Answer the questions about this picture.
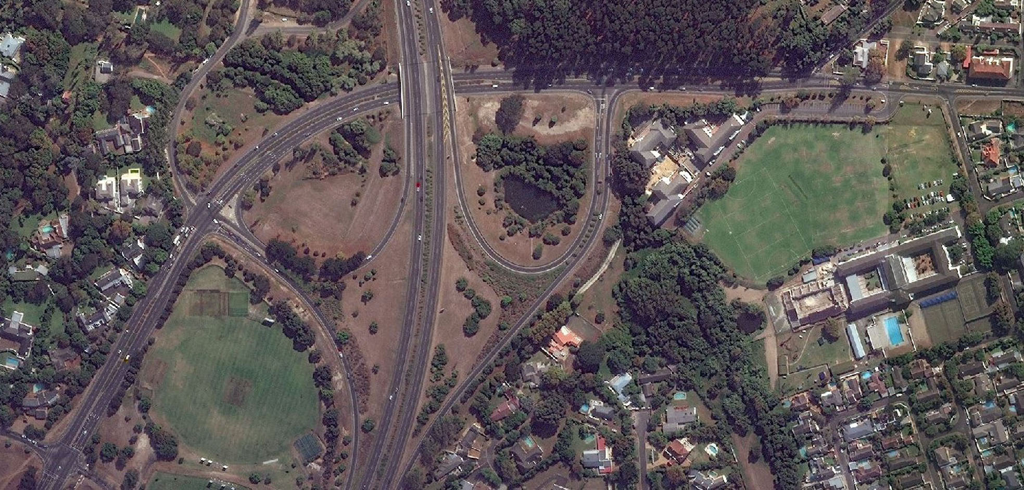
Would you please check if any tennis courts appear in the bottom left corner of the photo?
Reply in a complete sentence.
No, the scene shows no tennis court in the bottom left corner of the photo.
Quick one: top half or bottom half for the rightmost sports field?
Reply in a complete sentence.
The top half of the photo is where the rightmost sports field is.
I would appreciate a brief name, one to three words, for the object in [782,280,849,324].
building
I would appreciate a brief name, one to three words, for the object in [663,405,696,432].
house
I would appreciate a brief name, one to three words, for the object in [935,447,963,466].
house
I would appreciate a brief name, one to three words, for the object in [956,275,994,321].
tennis court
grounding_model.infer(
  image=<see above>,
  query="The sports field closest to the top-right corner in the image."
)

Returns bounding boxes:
[888,101,960,233]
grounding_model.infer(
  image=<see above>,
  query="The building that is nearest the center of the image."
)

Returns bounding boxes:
[550,326,581,359]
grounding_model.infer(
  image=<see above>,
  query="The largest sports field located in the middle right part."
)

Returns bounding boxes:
[697,123,891,285]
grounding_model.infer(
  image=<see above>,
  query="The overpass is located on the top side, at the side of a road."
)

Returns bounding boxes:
[398,60,456,119]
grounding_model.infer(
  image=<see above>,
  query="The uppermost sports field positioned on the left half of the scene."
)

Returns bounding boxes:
[139,264,320,465]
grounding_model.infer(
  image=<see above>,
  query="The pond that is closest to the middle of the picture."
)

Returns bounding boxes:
[504,174,558,222]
